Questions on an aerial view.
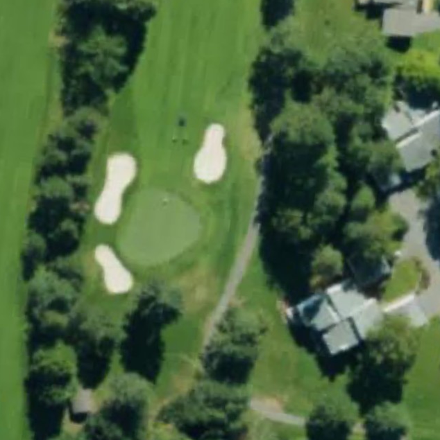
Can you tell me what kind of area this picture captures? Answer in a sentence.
What you see here is a golf course.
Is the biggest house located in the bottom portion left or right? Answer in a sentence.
The biggest house located in the bottom portion sits on the right side.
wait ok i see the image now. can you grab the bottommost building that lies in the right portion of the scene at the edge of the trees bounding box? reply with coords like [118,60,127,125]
[296,285,385,355]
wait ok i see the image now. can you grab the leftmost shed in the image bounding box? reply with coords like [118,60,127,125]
[75,391,94,414]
